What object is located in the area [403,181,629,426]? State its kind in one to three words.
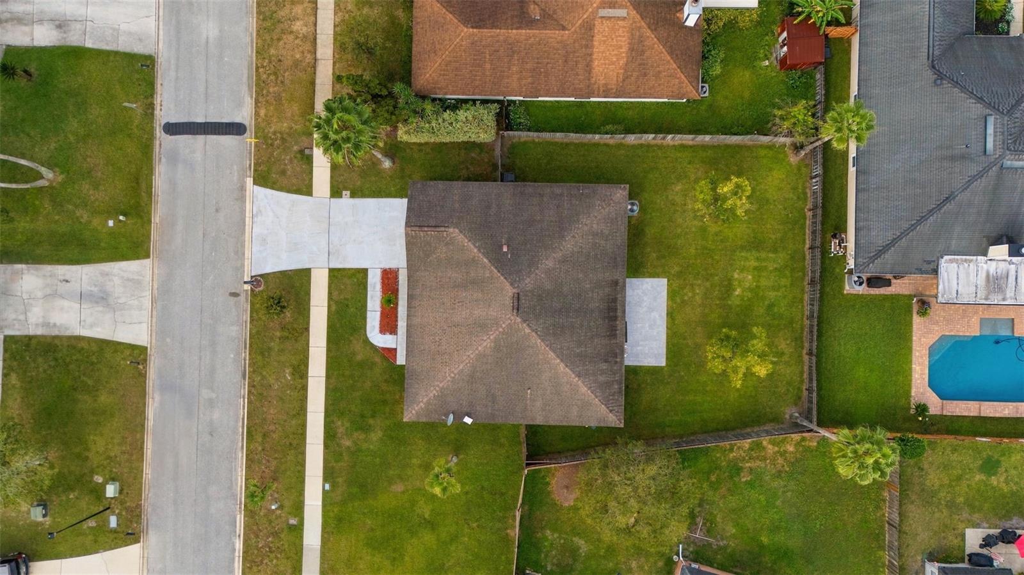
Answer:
house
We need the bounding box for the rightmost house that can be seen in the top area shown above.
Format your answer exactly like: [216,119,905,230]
[846,0,1024,306]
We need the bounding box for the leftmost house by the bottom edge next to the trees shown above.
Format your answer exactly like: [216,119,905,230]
[676,545,736,575]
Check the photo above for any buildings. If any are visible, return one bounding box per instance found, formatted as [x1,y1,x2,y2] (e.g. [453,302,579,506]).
[774,16,828,73]
[926,560,1014,575]
[403,181,629,426]
[676,545,736,575]
[411,0,758,101]
[846,0,1024,306]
